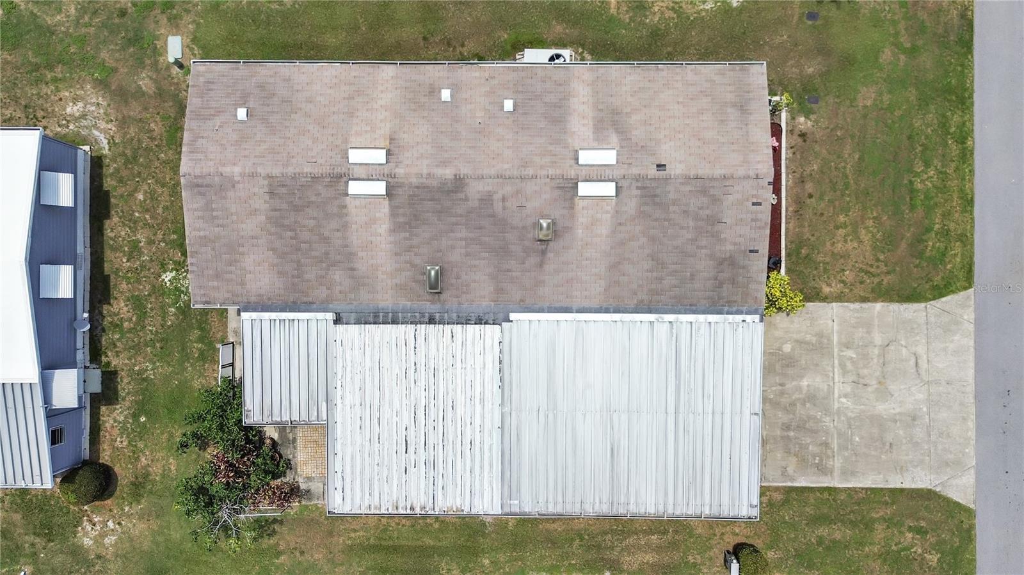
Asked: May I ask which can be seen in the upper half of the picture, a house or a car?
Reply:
house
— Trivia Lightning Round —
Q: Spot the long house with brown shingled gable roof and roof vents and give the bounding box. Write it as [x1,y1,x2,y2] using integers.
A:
[181,61,774,325]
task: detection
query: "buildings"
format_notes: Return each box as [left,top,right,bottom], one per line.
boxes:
[181,61,774,325]
[0,123,86,489]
